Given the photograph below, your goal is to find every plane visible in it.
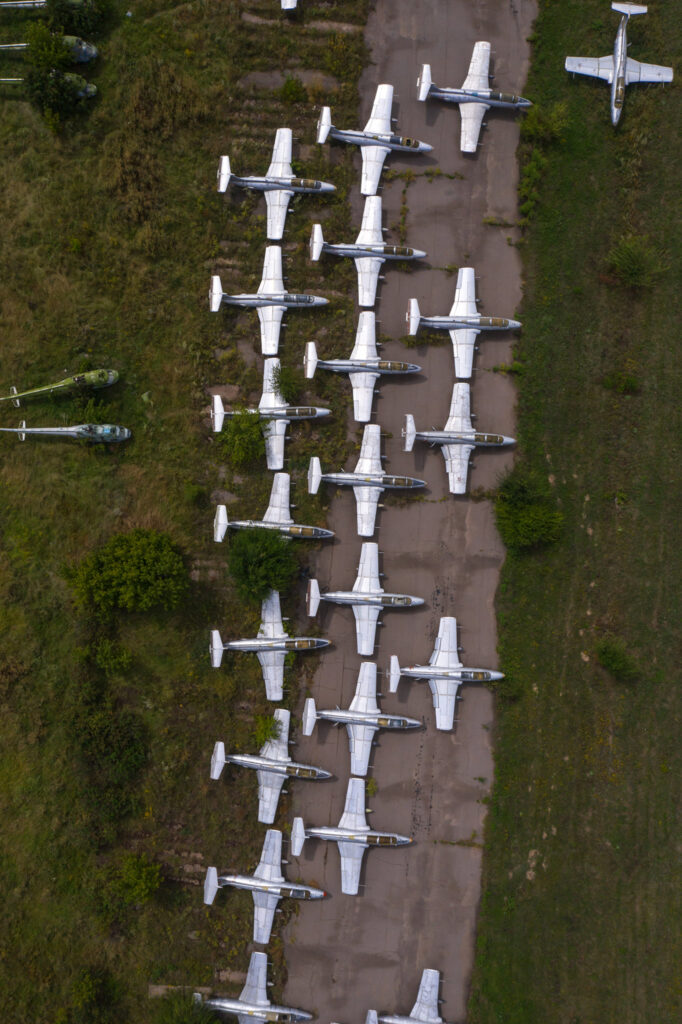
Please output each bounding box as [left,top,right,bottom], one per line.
[387,617,504,730]
[564,1,675,127]
[210,245,329,355]
[418,43,532,151]
[308,424,426,536]
[364,969,456,1024]
[317,85,433,194]
[303,662,422,776]
[189,952,311,1024]
[204,829,326,944]
[218,130,336,239]
[211,709,332,823]
[401,383,517,494]
[212,359,331,469]
[215,473,334,581]
[281,0,298,10]
[309,196,426,306]
[406,268,522,378]
[292,779,412,893]
[210,588,331,701]
[306,543,425,655]
[304,311,422,422]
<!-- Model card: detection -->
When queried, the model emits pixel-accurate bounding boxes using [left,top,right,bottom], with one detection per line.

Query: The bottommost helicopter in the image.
[0,420,132,446]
